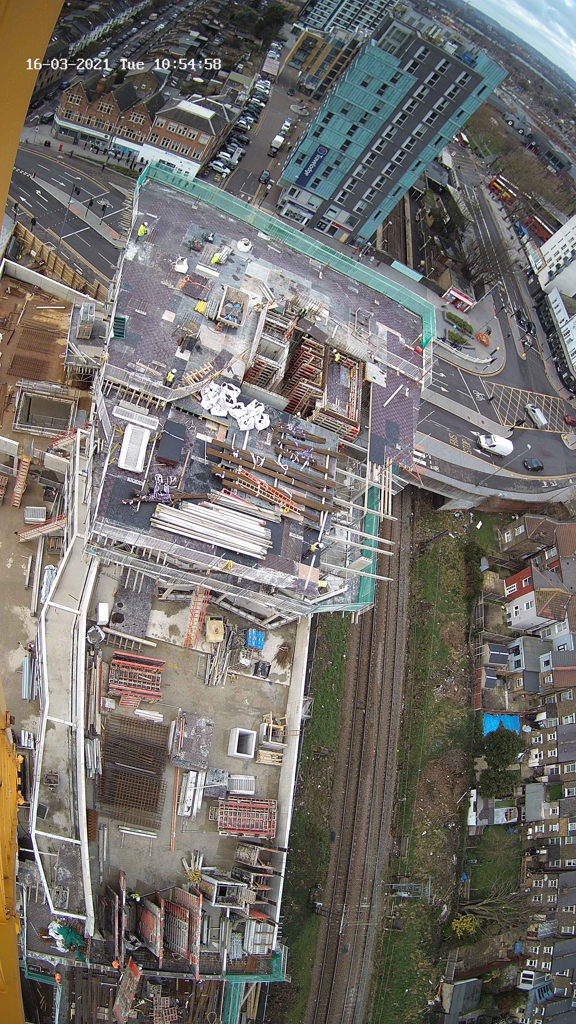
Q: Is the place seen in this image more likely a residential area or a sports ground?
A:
residential area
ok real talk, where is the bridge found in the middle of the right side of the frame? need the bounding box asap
[378,460,576,524]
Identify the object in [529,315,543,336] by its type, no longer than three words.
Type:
car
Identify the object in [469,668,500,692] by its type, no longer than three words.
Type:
shed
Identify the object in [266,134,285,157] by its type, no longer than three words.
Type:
vehicle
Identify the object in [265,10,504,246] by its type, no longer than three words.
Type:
building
